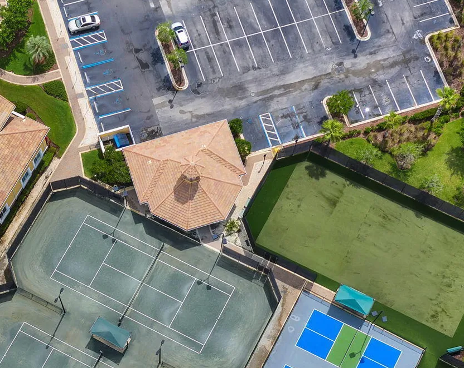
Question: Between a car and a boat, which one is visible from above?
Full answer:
There is a car in the scene.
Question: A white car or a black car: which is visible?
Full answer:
It is a white car that can be seen here.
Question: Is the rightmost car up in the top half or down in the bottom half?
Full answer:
You can find the rightmost car in the top half.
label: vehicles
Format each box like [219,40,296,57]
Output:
[69,15,101,33]
[171,22,192,48]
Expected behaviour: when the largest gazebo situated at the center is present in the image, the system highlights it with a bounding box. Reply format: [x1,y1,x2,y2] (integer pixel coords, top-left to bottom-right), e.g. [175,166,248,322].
[123,119,246,236]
